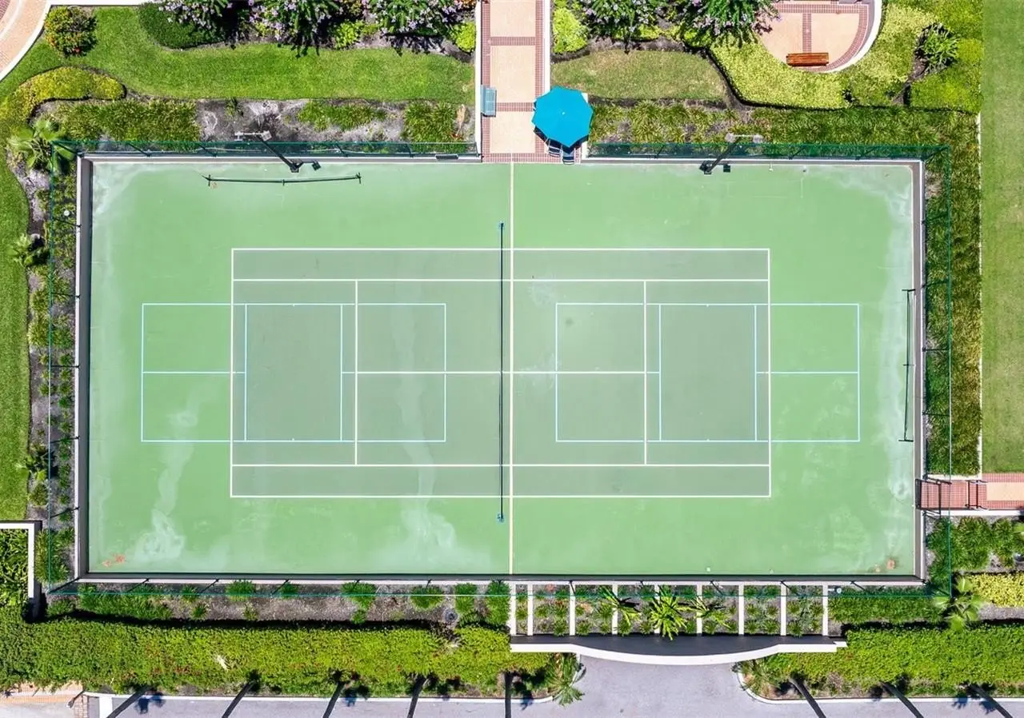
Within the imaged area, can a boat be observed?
No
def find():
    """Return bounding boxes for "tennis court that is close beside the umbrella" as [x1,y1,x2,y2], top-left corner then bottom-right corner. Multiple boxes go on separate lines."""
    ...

[88,153,915,574]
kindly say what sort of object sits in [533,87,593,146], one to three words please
umbrella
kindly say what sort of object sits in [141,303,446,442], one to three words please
sports court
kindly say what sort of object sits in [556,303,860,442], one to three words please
sports court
